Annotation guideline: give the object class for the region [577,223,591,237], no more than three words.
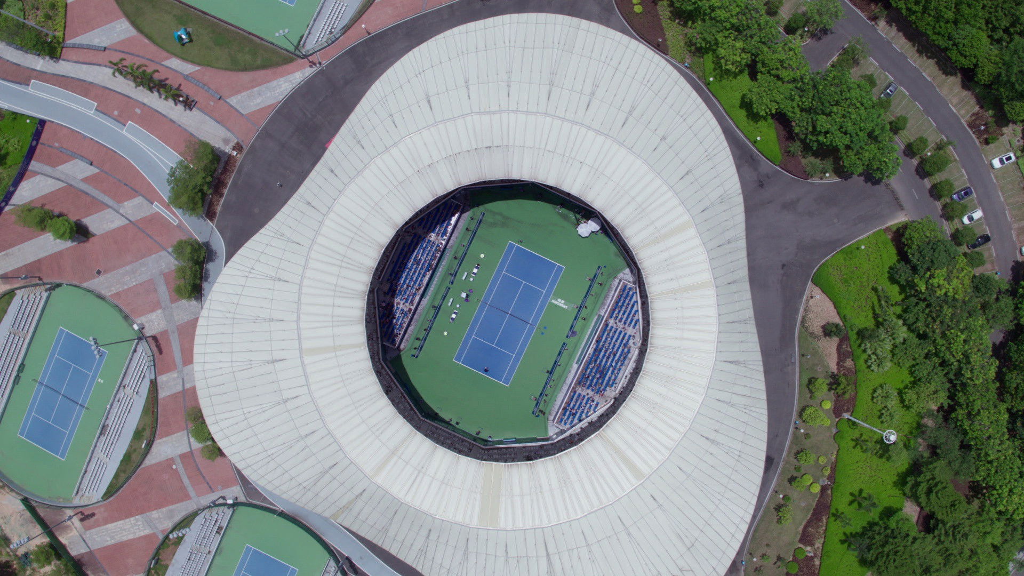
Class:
umbrella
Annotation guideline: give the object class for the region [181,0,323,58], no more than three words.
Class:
tennis court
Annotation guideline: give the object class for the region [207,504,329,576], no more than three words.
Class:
tennis court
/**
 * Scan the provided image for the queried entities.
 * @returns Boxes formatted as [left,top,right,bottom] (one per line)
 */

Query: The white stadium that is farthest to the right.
[193,13,768,576]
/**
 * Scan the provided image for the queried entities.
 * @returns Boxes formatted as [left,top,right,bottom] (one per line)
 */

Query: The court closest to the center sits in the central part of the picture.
[381,185,631,440]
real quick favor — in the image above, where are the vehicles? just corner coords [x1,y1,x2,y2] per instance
[990,151,1016,169]
[967,233,992,250]
[878,80,901,100]
[960,208,985,224]
[950,185,975,200]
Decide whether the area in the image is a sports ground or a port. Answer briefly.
sports ground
